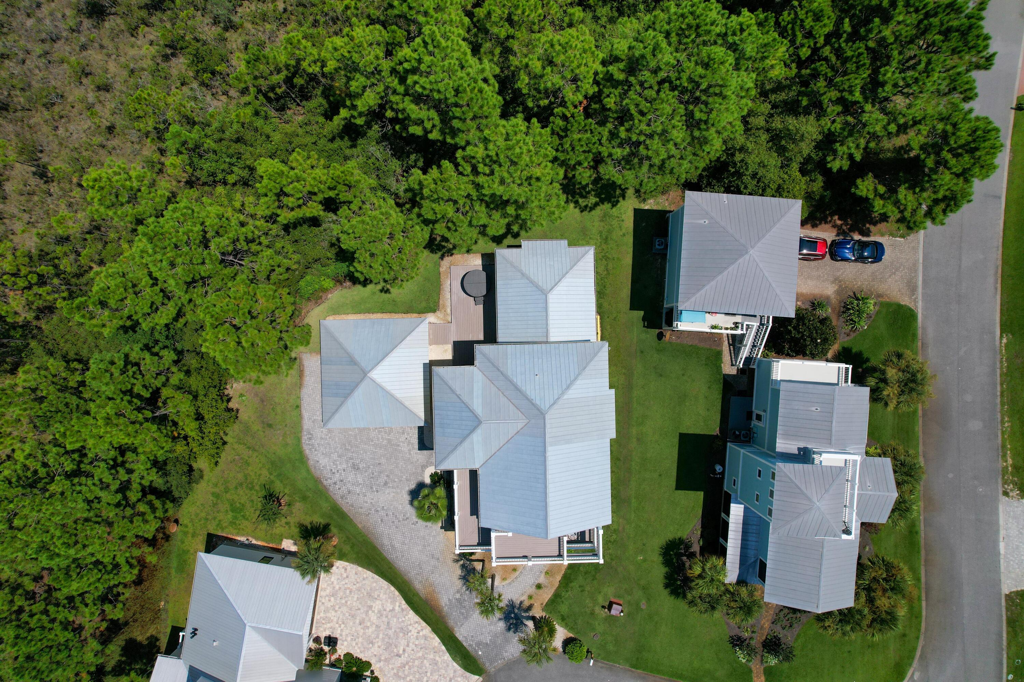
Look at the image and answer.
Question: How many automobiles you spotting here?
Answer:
2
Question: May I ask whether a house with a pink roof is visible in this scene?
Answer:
No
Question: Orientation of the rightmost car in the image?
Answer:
from side to side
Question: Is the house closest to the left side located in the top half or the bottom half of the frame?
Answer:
bottom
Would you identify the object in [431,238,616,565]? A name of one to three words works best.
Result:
house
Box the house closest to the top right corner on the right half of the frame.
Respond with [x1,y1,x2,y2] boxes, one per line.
[662,189,803,377]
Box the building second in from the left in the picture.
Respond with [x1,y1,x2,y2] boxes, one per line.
[319,316,432,429]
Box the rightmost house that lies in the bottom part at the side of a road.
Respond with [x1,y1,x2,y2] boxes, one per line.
[718,357,898,613]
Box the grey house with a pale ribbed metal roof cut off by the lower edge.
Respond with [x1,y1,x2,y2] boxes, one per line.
[149,540,344,682]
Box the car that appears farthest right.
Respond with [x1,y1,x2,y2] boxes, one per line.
[827,237,887,265]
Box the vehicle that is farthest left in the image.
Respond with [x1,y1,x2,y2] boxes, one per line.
[798,234,829,260]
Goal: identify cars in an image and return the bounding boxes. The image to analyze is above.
[827,237,887,265]
[798,234,829,260]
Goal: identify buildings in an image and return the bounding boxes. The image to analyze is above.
[662,189,803,377]
[431,238,616,565]
[319,316,432,429]
[149,540,344,682]
[718,357,898,613]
